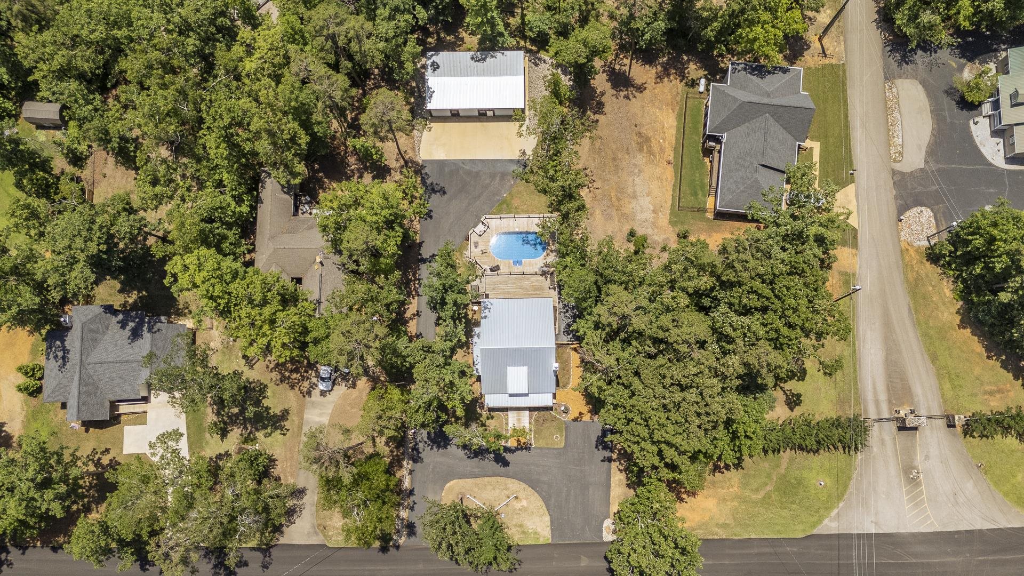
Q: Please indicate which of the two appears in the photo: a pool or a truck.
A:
pool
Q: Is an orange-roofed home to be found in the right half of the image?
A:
No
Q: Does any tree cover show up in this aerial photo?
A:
Yes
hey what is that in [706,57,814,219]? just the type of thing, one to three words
house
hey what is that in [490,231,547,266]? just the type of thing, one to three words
swimming pool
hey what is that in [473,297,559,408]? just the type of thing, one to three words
house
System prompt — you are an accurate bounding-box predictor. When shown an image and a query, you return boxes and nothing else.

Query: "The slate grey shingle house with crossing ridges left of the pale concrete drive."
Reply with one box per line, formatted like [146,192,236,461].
[43,305,191,421]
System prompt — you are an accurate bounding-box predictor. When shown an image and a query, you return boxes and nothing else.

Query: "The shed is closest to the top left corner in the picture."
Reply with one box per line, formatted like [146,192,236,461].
[23,107,71,130]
